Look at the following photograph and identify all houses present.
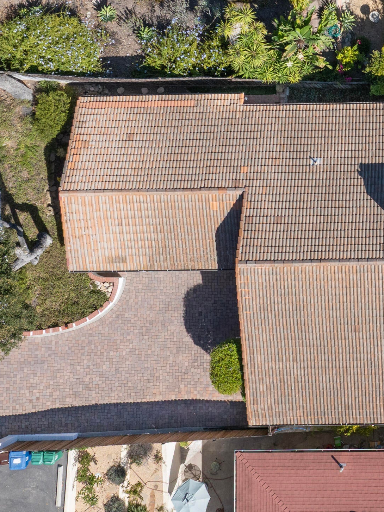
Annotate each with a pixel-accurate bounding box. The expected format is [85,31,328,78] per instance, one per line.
[232,447,384,512]
[56,91,384,430]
